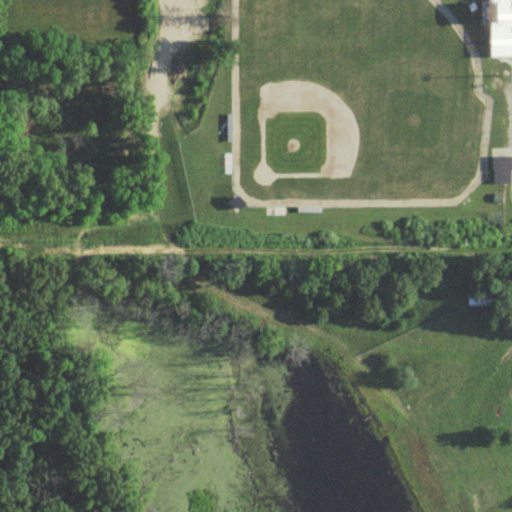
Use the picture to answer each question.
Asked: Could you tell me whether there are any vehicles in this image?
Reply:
No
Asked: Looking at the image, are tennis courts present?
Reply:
No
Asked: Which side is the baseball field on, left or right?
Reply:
right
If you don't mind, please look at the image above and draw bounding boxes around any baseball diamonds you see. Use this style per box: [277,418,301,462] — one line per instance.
[231,0,494,208]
